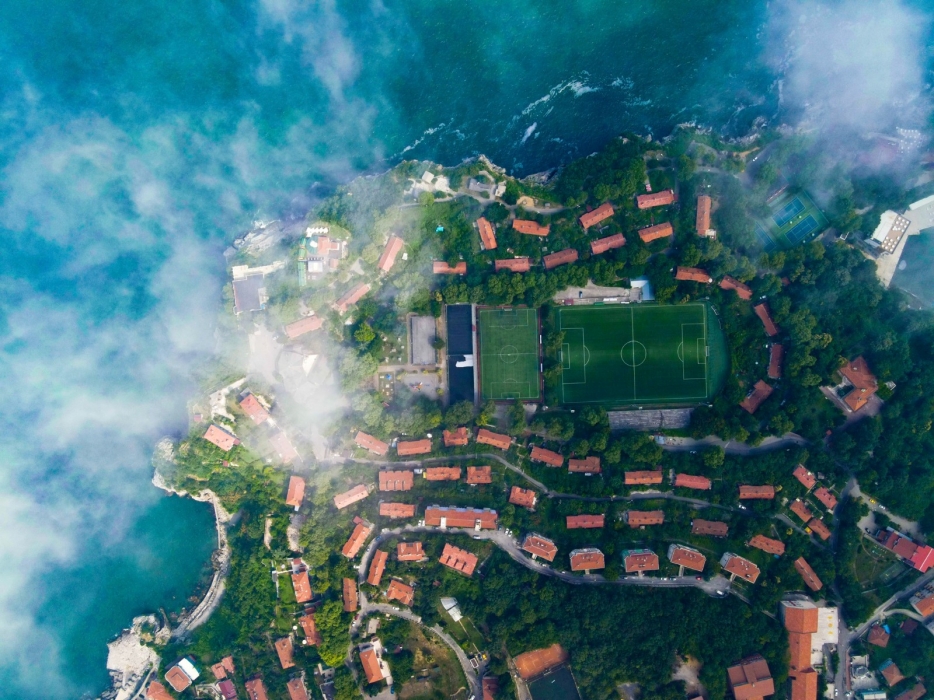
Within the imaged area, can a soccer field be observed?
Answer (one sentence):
Yes, there's a soccer field down there.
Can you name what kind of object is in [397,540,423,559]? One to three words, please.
house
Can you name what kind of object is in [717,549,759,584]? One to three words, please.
building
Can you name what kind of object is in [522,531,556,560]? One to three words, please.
building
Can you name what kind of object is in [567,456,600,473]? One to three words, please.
house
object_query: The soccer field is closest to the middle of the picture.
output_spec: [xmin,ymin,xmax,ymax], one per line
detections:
[475,303,545,405]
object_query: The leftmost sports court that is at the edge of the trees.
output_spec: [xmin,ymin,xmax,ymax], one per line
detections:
[407,314,436,366]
